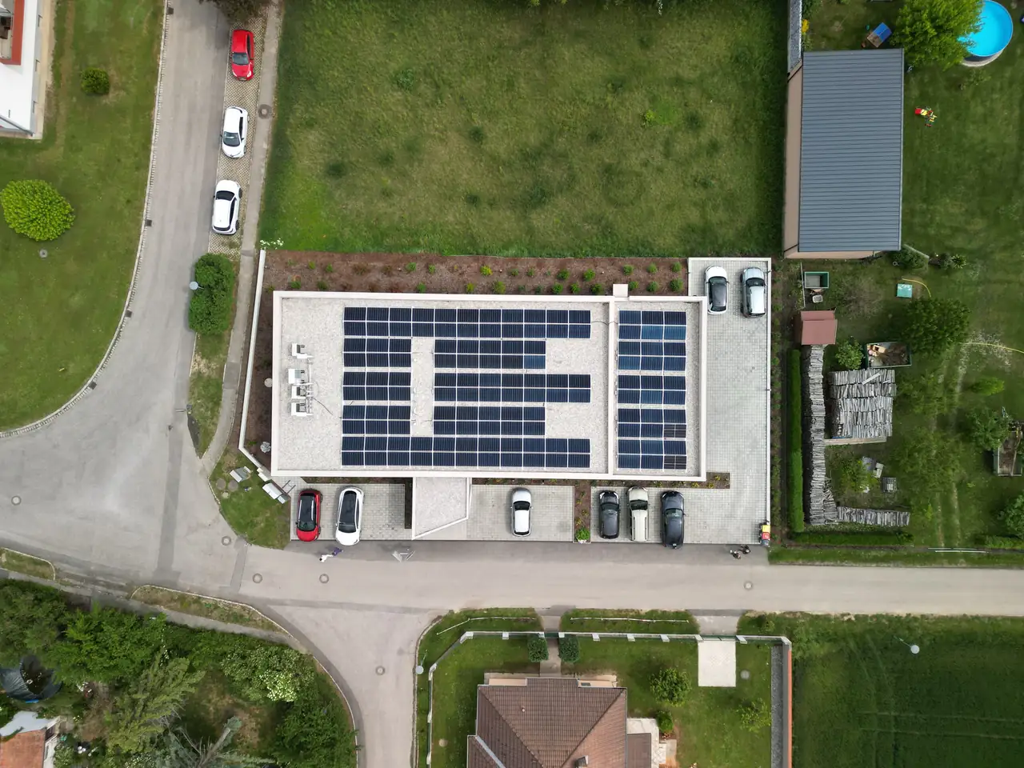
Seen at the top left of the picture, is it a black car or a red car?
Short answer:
red car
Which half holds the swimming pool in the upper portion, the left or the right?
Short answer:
right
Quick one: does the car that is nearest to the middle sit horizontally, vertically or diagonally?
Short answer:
vertically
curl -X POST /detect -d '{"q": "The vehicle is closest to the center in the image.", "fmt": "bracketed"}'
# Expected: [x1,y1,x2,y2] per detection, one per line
[509,487,534,537]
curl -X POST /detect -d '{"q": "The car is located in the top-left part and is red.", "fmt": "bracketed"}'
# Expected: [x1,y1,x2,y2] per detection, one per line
[228,29,257,83]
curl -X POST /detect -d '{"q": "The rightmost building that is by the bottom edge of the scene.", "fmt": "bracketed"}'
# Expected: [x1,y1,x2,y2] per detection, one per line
[467,678,652,768]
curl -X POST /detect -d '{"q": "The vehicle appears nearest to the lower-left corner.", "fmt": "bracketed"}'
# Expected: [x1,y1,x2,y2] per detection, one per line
[295,489,323,540]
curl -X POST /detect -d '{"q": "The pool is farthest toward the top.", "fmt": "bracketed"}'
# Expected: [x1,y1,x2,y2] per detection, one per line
[954,0,1013,67]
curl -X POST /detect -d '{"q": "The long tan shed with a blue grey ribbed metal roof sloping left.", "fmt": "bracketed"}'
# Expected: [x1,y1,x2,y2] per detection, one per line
[783,44,905,258]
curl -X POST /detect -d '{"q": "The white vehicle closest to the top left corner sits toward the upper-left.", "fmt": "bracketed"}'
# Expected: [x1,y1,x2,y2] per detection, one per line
[221,106,251,160]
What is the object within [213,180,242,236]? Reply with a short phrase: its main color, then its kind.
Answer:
white car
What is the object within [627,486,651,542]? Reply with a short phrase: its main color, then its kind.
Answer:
white car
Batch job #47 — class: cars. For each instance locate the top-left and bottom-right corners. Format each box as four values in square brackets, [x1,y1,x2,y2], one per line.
[597,490,622,539]
[228,29,257,83]
[659,489,687,549]
[295,489,323,540]
[221,106,251,160]
[739,267,767,317]
[213,180,242,236]
[334,487,364,545]
[704,266,730,315]
[509,487,534,537]
[627,486,651,542]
